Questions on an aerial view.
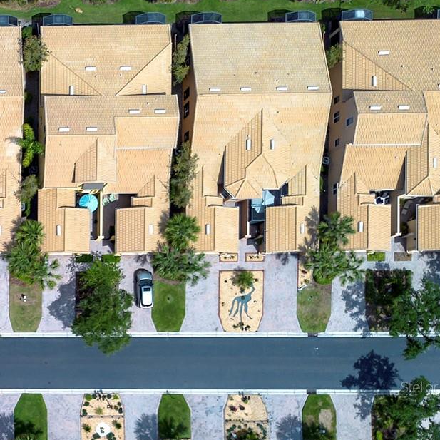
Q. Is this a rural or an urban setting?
urban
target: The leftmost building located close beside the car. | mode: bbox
[39,12,180,255]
